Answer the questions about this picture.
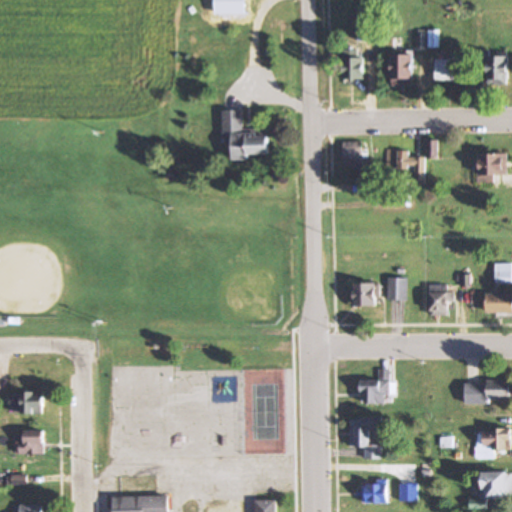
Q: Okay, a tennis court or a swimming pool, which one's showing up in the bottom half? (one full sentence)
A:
It is a tennis court that can be seen in the bottom half.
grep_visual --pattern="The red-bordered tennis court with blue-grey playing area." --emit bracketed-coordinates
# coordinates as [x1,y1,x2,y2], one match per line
[246,370,284,454]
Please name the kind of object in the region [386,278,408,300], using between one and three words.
building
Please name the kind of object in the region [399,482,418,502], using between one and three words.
building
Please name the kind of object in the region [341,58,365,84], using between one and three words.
house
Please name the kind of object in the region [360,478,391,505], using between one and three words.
house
